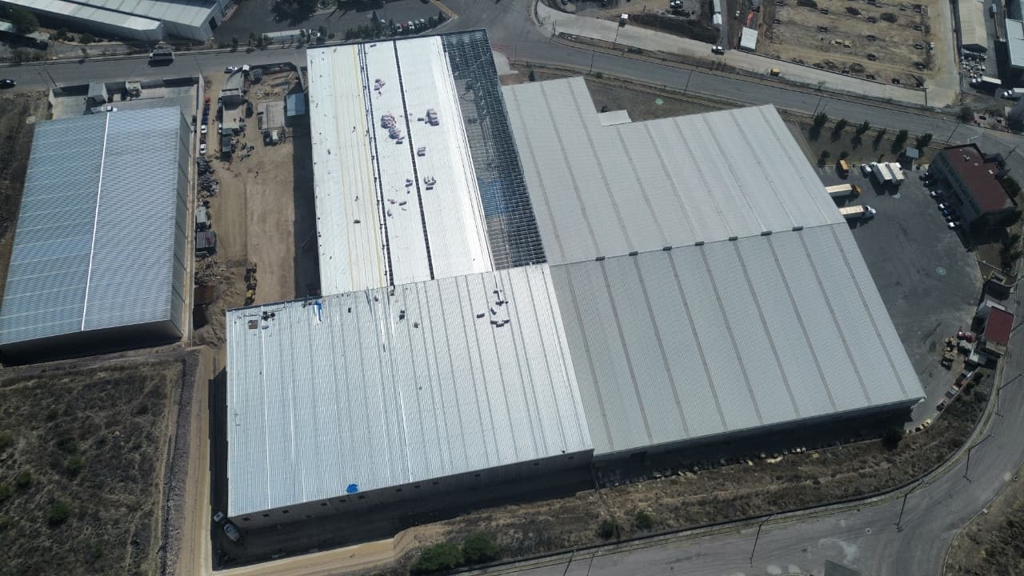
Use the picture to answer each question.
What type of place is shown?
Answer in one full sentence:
The picture captures an industrial area.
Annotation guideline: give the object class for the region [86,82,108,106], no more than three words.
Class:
building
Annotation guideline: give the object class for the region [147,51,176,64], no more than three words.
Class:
vehicle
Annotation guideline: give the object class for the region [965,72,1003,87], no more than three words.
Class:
vehicle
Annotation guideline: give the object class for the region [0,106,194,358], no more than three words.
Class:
warehouse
